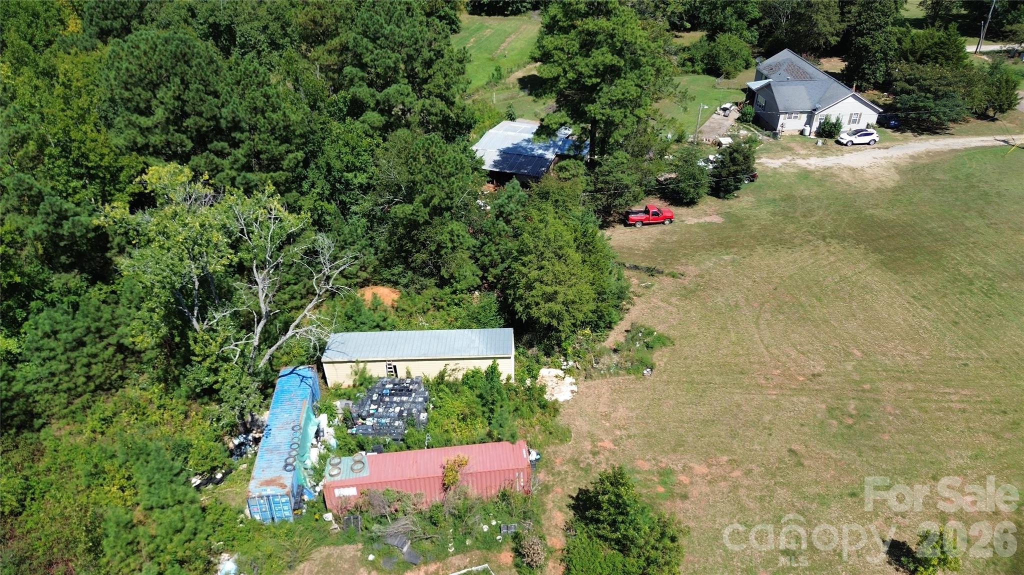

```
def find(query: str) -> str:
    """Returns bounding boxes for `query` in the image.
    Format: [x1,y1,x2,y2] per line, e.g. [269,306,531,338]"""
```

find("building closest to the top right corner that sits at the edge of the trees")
[739,47,881,134]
